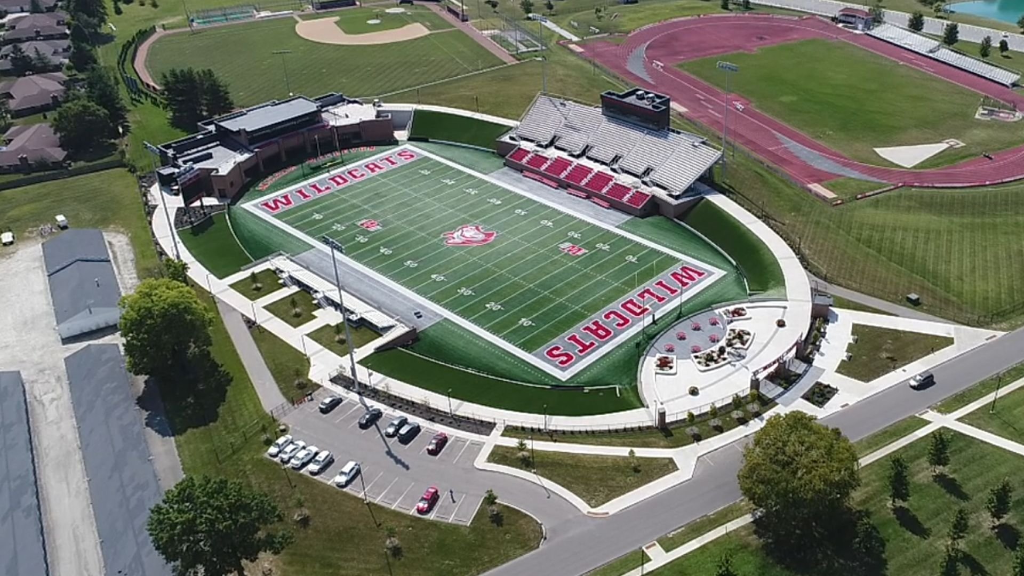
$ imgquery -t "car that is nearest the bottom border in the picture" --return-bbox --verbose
[415,488,439,511]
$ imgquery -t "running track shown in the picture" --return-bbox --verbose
[574,14,1024,204]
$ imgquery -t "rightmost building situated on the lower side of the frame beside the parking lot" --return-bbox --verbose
[65,343,172,576]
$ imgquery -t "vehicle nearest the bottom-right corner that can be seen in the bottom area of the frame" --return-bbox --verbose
[910,369,935,387]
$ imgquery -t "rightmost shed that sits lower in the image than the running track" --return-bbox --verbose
[813,295,833,317]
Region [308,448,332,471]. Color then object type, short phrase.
white car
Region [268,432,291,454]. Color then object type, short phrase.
white car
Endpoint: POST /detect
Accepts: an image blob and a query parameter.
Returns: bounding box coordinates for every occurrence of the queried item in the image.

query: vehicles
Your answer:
[318,394,342,412]
[415,488,439,511]
[268,432,291,454]
[0,232,12,243]
[425,432,449,452]
[291,445,317,466]
[910,369,935,387]
[279,440,303,460]
[396,419,421,441]
[54,217,67,227]
[358,407,382,426]
[308,448,332,471]
[334,459,359,484]
[383,415,407,434]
